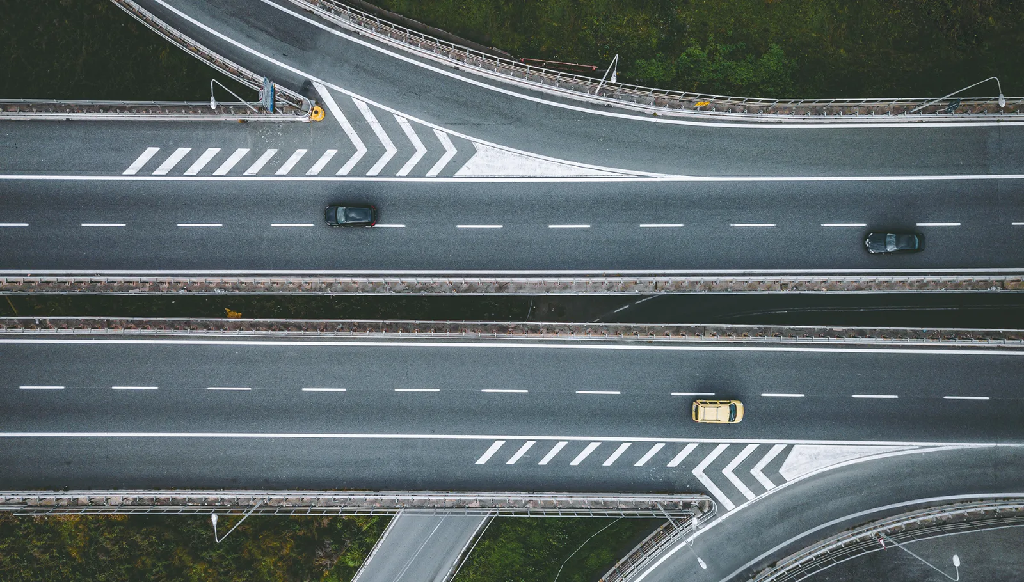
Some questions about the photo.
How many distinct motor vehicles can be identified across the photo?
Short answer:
3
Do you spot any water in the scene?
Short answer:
No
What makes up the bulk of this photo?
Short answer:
paved ground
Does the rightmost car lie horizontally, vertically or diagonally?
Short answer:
horizontally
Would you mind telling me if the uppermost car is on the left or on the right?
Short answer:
left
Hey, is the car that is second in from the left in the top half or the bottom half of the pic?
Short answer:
bottom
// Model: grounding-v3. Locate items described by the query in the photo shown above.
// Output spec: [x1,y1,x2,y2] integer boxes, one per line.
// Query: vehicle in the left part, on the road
[325,202,376,230]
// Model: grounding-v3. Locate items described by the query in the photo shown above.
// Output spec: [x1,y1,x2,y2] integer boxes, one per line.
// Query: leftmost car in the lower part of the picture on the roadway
[692,398,744,427]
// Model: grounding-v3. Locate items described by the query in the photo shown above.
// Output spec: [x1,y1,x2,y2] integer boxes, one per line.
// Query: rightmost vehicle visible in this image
[865,228,924,256]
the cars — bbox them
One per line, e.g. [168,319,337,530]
[865,228,924,256]
[325,202,376,230]
[692,398,744,427]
